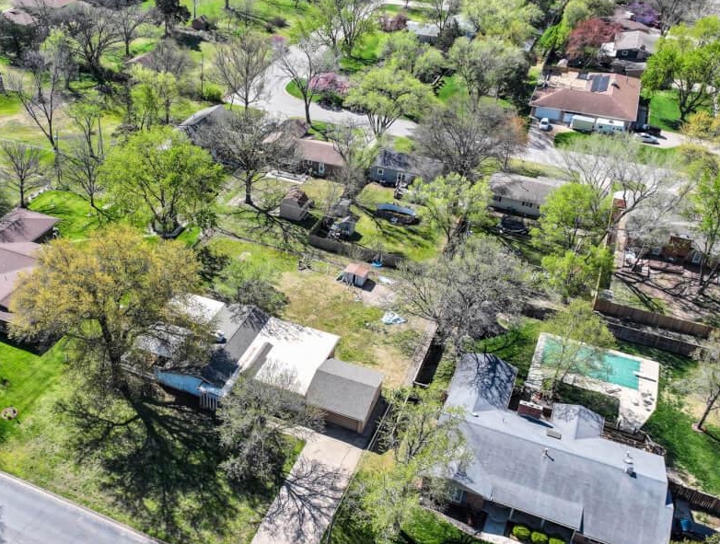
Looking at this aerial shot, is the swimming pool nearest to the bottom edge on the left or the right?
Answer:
right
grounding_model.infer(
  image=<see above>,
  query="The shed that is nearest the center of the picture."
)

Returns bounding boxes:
[343,262,369,285]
